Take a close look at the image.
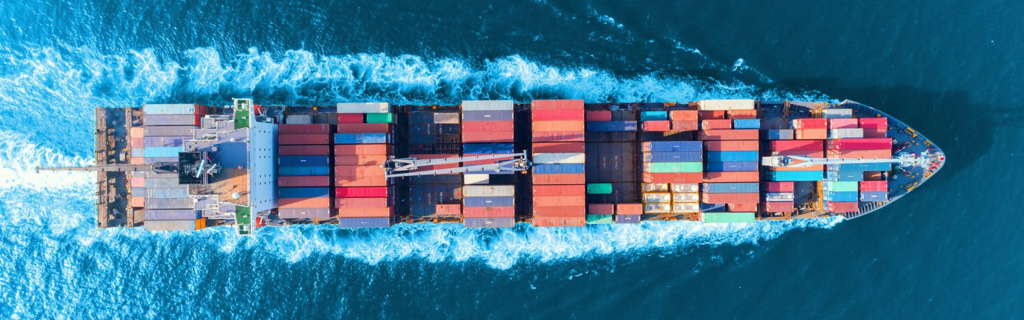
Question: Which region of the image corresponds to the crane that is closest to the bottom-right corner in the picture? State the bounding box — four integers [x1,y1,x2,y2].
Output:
[759,154,909,168]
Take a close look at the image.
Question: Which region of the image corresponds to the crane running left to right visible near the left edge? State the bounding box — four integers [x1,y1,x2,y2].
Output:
[35,162,178,176]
